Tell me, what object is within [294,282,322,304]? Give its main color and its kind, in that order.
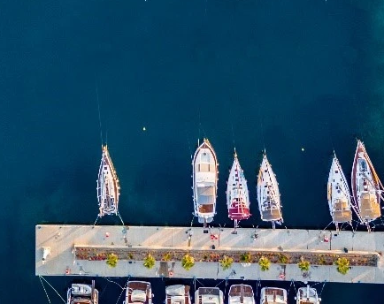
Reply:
white boat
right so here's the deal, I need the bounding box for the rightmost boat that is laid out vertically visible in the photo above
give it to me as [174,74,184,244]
[349,139,384,236]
